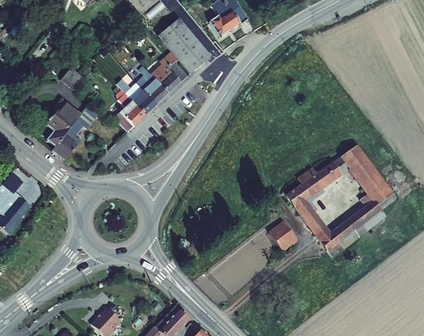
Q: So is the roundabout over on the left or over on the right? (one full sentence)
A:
You can find the roundabout on the left side of the picture.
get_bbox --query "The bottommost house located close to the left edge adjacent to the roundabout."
[0,174,39,235]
